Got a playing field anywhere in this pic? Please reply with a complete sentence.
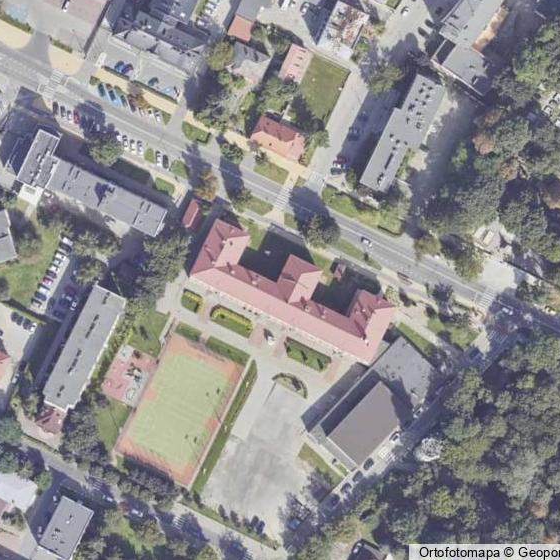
Yes, I can see a playing field in this picture.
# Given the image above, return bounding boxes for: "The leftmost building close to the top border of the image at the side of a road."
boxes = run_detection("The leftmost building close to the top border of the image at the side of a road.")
[112,0,210,82]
